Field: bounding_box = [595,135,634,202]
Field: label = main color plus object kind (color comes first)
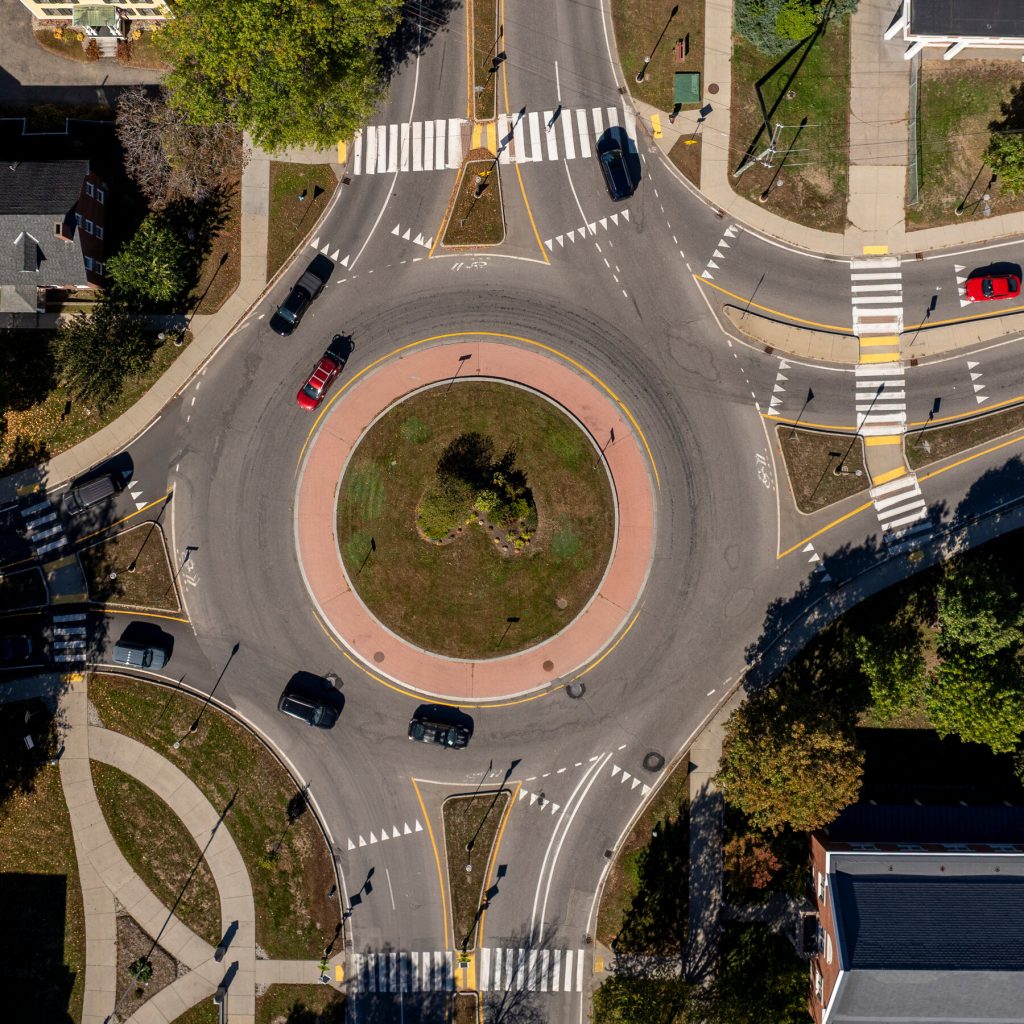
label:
black car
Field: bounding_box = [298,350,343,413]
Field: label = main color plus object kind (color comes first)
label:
red car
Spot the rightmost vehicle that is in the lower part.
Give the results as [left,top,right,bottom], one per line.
[409,718,469,750]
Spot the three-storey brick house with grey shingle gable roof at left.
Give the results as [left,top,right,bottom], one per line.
[0,158,107,315]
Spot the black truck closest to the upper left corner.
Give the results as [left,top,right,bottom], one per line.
[272,271,327,341]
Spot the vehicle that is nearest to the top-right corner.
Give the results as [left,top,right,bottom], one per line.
[962,273,1021,302]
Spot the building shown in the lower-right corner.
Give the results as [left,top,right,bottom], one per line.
[791,798,1024,1024]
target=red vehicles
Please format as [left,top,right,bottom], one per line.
[962,273,1021,302]
[298,350,343,413]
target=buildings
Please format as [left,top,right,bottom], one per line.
[0,158,107,315]
[791,798,1024,1024]
[16,0,175,57]
[885,0,1024,60]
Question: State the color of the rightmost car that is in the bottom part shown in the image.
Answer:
black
